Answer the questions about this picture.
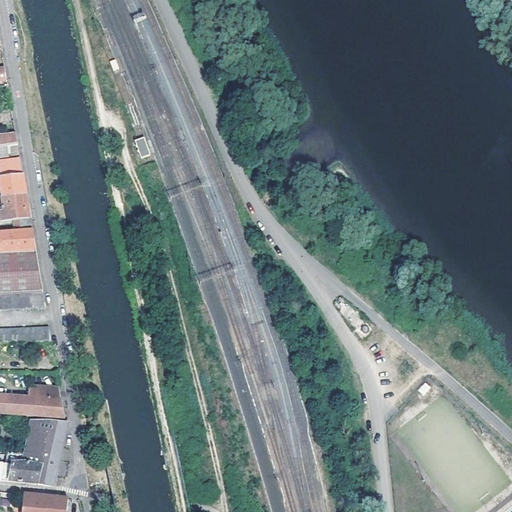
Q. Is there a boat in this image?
No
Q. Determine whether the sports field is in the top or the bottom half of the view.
bottom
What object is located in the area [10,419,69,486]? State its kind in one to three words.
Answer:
building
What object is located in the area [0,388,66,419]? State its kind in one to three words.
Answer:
house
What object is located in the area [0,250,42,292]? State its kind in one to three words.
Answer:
building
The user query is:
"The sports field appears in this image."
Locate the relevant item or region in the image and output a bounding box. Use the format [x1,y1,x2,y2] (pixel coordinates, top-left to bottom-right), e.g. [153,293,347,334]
[396,396,511,512]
